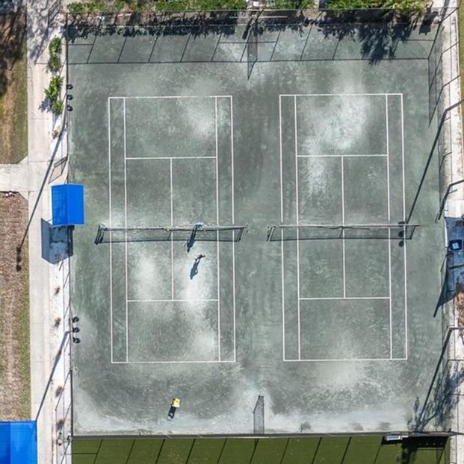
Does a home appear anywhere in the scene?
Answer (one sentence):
No, no home is visible in the view.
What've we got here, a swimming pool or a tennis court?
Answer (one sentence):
I can see a tennis court in this picture.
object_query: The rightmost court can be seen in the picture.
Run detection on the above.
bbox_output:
[256,22,449,433]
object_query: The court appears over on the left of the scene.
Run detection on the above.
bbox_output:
[68,23,260,434]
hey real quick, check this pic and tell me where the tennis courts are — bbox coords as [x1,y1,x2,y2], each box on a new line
[256,22,449,433]
[68,23,260,434]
